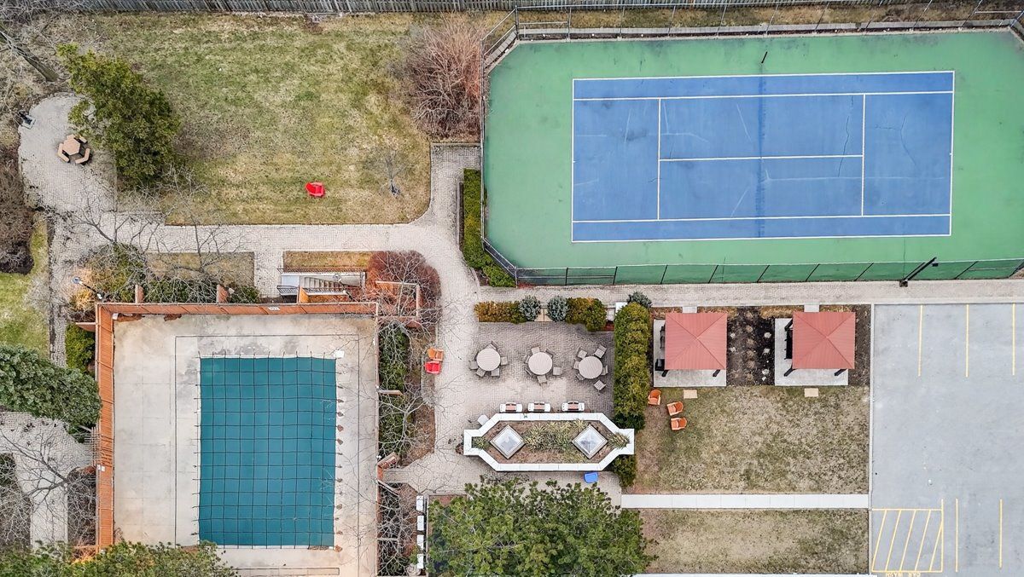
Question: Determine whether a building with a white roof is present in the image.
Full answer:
No, there appears to be no building with a white roof in this shot.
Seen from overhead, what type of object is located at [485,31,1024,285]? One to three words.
tennis court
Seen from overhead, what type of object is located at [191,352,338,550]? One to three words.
swimming pool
